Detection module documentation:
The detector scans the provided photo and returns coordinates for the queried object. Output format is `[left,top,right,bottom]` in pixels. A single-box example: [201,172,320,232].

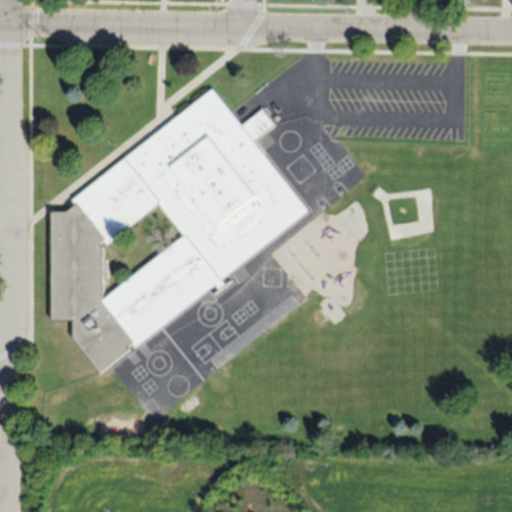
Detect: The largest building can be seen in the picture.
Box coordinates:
[50,90,310,374]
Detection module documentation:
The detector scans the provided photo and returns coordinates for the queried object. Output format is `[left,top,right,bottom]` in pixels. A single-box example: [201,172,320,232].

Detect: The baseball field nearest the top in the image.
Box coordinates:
[374,187,434,240]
